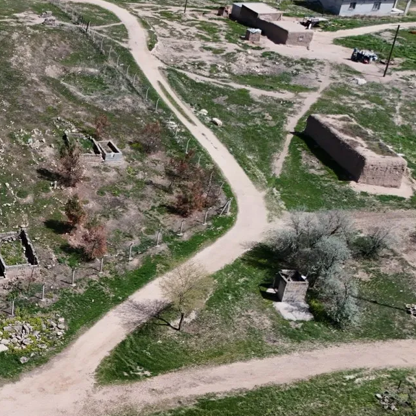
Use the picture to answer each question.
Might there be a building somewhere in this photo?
Yes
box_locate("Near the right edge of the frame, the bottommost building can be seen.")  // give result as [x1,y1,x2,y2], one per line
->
[317,111,409,184]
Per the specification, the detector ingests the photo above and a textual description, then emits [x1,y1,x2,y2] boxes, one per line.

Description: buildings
[308,0,413,16]
[317,111,409,184]
[264,265,324,320]
[226,0,316,46]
